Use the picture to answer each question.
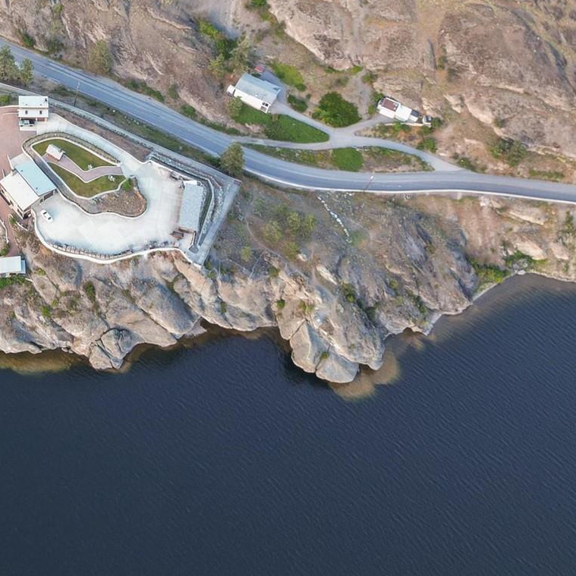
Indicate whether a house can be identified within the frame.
Yes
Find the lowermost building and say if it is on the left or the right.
left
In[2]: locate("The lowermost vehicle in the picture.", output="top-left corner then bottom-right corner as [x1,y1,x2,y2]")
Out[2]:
[40,209,53,223]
